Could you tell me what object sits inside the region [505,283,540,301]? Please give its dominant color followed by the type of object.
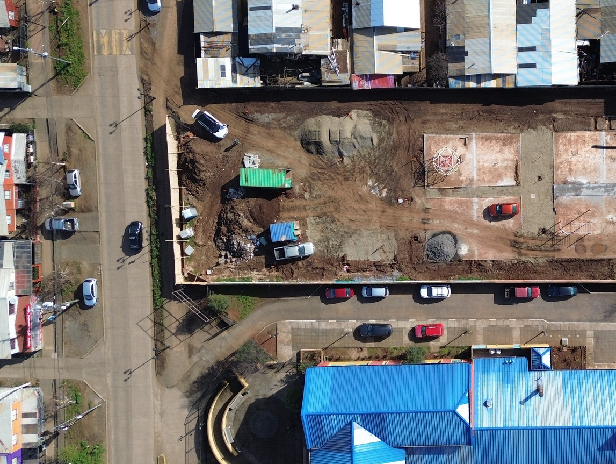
red vehicle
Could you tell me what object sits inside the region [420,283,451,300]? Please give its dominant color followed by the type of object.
white car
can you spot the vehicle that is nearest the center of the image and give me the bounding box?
[272,241,315,261]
